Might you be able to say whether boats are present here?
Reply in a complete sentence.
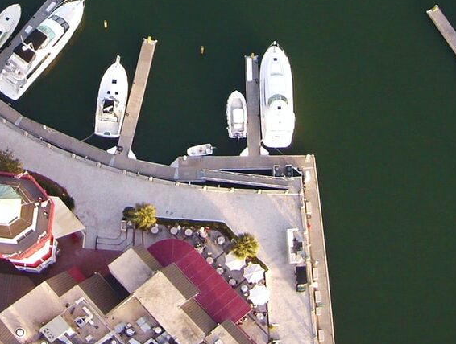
Yes, this view includes a boat.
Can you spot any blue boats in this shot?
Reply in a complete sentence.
No, I can see no blue boat in this picture.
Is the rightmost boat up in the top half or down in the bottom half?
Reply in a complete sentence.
The rightmost boat sits in the top half of the picture.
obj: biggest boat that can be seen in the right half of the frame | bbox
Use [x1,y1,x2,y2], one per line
[259,38,292,153]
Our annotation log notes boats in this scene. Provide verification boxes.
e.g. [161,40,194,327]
[189,145,217,158]
[259,38,292,153]
[96,54,128,141]
[0,0,83,105]
[227,93,247,144]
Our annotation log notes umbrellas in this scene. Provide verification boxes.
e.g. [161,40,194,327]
[222,250,244,276]
[247,281,270,308]
[241,259,265,285]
